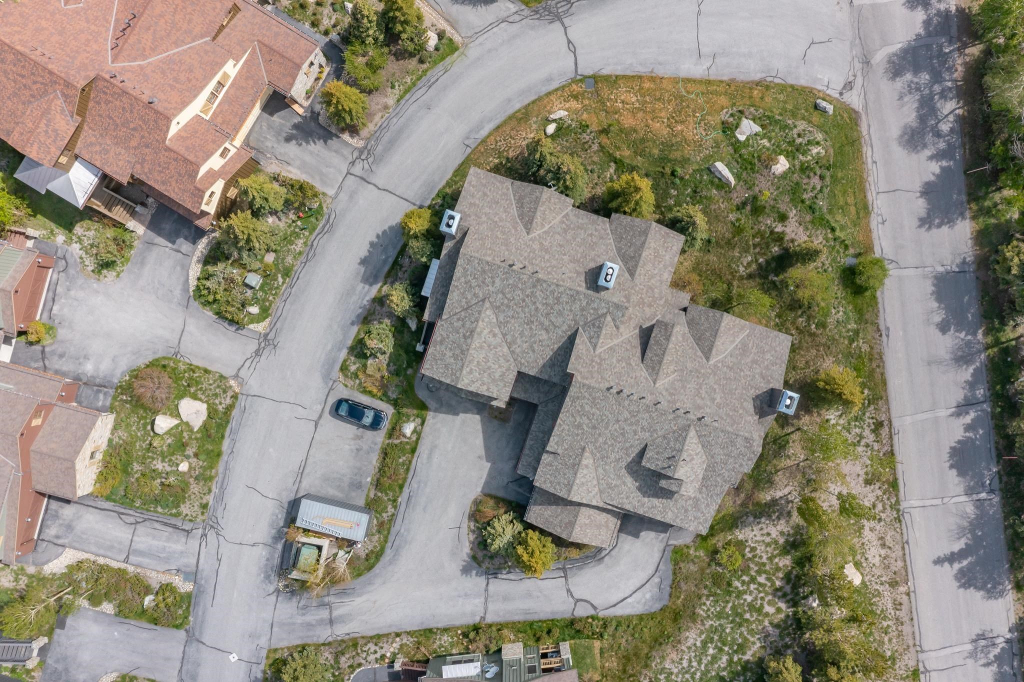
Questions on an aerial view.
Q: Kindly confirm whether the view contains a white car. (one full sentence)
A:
No, there appears to be no white car in this shot.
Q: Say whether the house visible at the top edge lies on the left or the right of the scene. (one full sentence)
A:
The house visible at the top edge appears in the left half of the scene.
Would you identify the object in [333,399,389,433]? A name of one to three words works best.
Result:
car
